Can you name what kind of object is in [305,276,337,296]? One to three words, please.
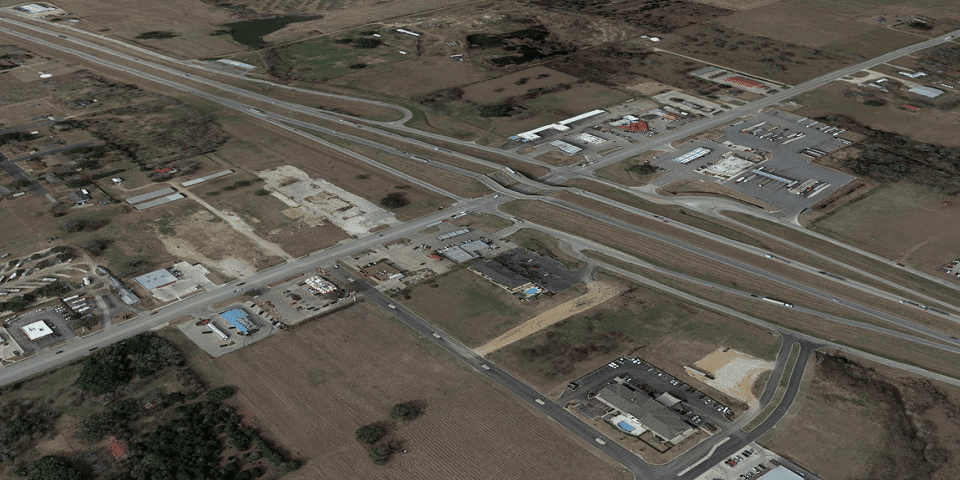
building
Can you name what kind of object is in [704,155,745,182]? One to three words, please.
service area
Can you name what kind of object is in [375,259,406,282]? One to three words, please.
building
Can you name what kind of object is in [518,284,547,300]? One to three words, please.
swimming pool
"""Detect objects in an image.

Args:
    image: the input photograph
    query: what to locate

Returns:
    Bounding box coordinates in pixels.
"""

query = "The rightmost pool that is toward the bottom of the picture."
[611,414,645,435]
